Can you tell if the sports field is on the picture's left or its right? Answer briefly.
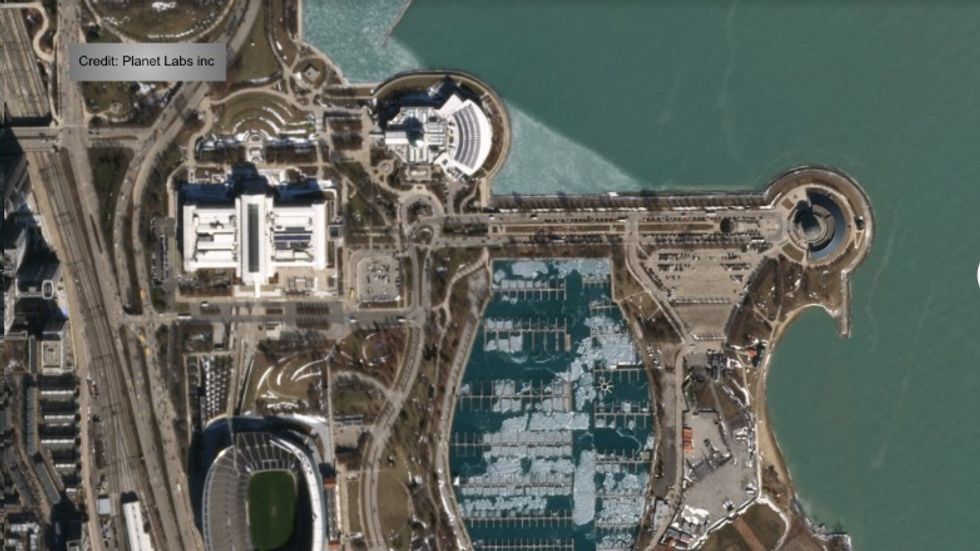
left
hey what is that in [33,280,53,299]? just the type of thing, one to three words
building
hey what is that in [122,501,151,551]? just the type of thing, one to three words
shed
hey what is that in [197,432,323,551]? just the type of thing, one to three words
stadium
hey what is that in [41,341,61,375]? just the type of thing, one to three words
building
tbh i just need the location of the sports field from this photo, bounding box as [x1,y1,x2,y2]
[246,468,300,551]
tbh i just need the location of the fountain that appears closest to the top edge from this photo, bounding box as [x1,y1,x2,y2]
[247,131,263,148]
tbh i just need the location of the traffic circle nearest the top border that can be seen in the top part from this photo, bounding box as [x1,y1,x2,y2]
[400,187,442,231]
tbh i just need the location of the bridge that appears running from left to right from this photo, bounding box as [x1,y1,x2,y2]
[0,127,70,151]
